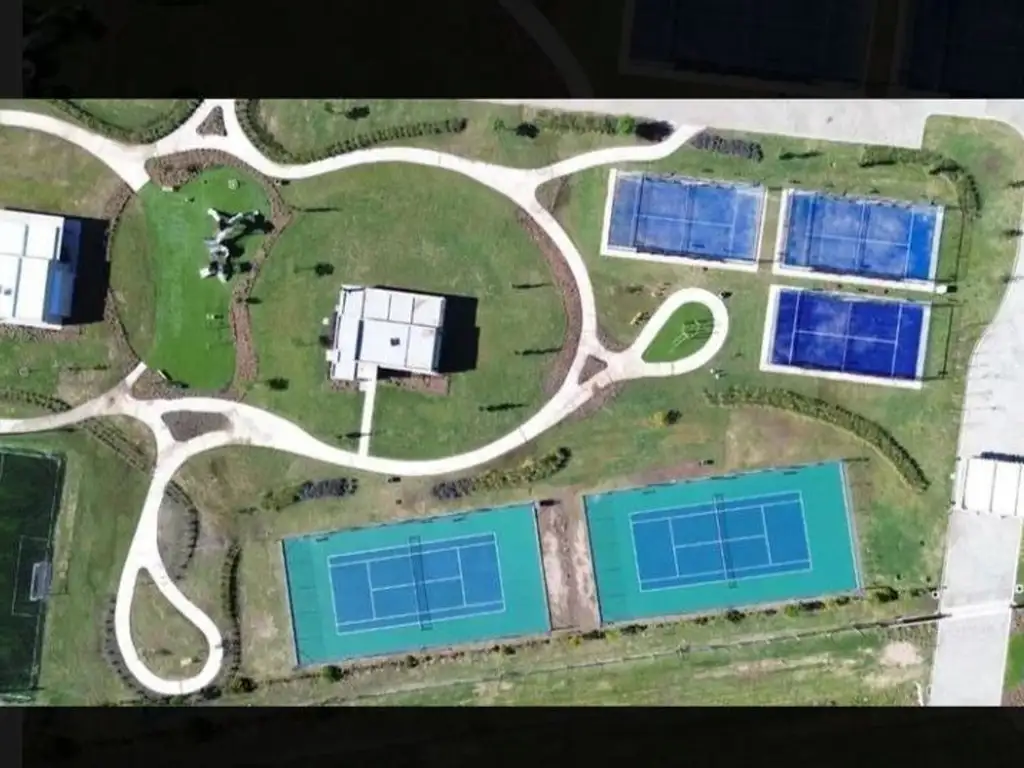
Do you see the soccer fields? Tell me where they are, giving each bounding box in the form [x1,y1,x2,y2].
[0,446,63,692]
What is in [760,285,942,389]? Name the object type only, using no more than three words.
sports court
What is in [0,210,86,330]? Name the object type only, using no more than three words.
building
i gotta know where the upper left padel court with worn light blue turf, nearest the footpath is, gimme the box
[601,167,771,272]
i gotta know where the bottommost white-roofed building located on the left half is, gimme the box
[324,285,446,380]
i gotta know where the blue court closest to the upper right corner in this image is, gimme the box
[773,185,956,291]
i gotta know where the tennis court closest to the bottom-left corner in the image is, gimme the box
[280,500,555,669]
